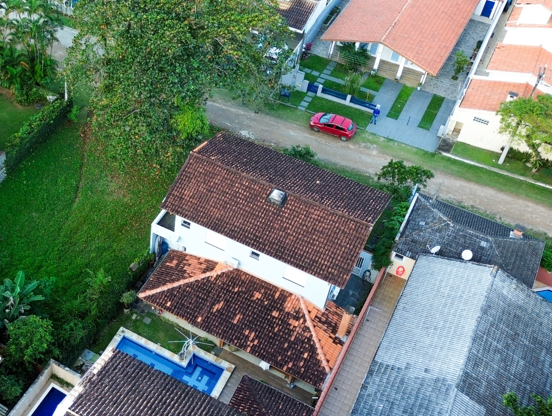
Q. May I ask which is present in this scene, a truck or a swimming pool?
swimming pool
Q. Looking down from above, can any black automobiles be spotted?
No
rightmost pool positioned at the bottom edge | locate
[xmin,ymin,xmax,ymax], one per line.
[111,330,233,401]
